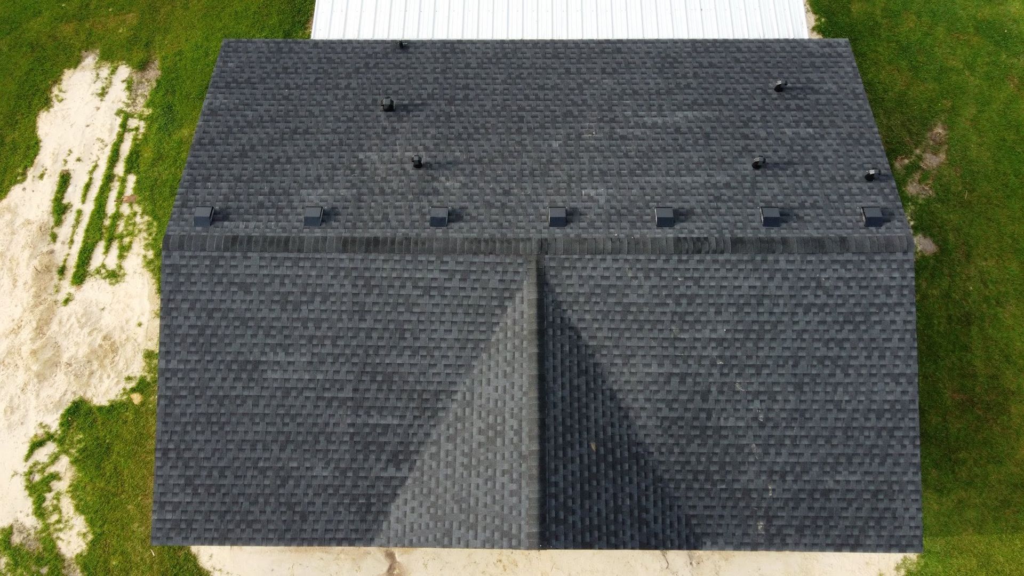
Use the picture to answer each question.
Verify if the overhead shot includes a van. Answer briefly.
No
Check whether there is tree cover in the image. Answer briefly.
No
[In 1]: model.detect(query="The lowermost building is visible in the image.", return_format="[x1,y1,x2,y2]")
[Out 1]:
[151,37,924,554]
